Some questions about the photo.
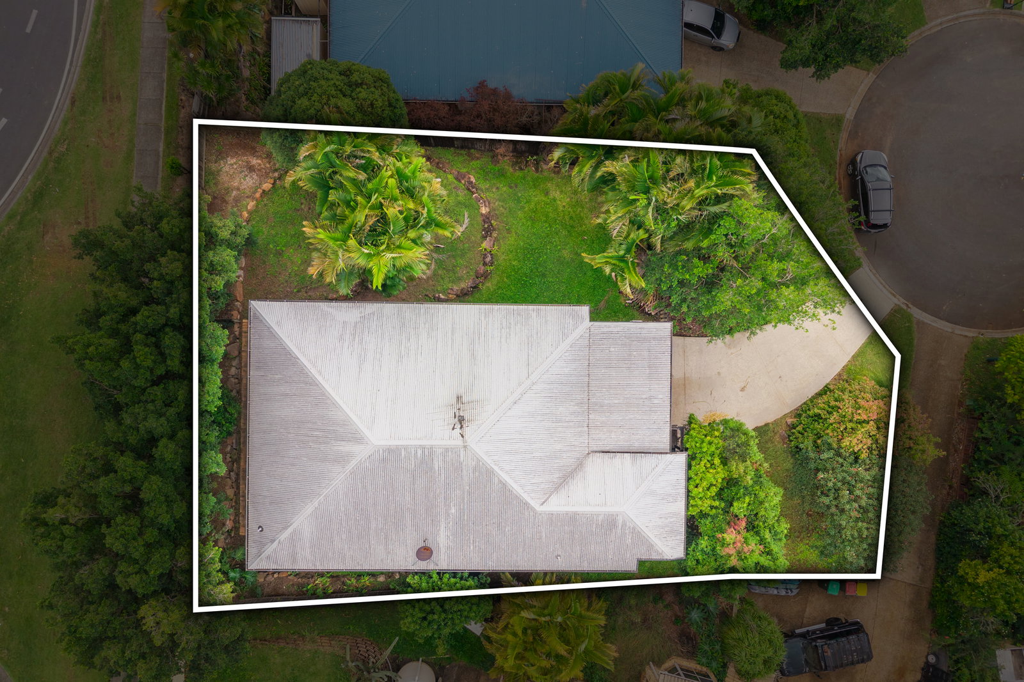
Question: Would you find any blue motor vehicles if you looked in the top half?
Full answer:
No, I can find no blue motor vehicle in the top half.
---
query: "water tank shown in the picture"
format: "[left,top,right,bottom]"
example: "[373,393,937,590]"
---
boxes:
[399,654,438,682]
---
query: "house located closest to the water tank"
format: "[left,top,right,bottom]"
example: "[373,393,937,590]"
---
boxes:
[246,300,690,573]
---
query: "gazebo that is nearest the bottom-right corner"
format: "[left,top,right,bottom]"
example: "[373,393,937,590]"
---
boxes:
[649,643,714,682]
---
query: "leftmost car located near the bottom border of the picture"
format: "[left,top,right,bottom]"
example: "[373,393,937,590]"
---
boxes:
[777,620,876,679]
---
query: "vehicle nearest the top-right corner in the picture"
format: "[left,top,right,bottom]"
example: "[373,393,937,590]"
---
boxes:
[849,151,896,234]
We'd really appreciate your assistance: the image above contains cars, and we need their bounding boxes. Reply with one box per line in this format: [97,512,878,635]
[849,151,896,234]
[777,620,876,679]
[685,1,734,48]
